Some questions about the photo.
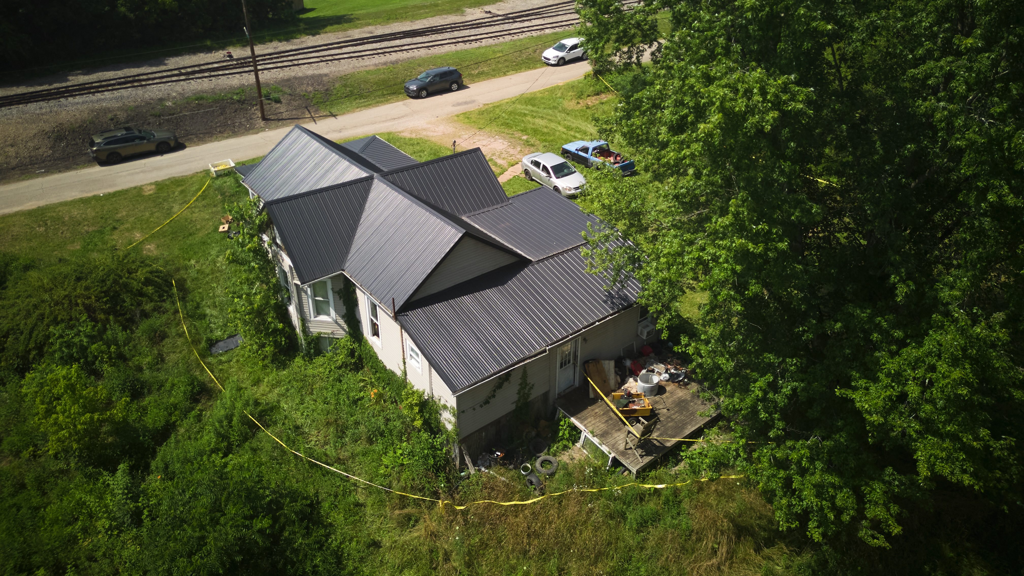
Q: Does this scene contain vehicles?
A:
Yes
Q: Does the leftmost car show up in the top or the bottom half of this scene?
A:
top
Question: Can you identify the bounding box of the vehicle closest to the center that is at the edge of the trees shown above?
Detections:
[516,156,588,200]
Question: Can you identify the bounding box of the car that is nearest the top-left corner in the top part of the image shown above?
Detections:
[82,125,177,165]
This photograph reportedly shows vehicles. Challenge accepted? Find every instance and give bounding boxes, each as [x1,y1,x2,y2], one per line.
[82,125,177,165]
[516,156,588,200]
[562,142,640,180]
[545,33,593,62]
[401,61,464,97]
